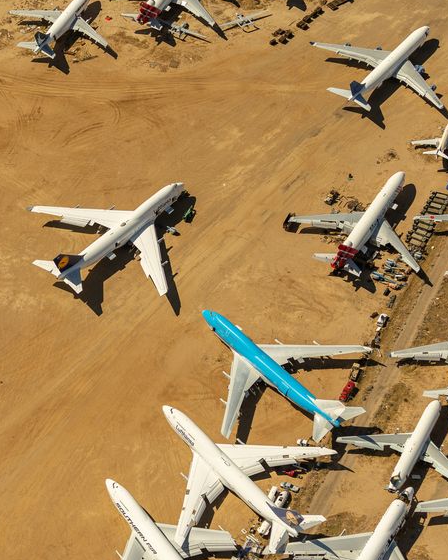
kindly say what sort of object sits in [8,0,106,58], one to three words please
airplane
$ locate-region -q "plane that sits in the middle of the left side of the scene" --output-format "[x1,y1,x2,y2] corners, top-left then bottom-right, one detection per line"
[22,184,185,297]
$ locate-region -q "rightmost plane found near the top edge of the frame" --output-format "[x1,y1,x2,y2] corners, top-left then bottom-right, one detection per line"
[305,26,447,111]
